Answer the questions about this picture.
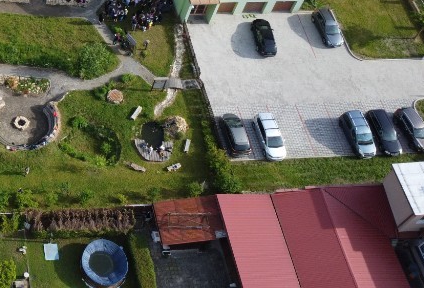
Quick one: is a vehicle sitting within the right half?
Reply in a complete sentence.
Yes, looking within the right half, one can make out a vehicle.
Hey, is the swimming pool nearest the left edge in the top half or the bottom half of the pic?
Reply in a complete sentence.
The swimming pool nearest the left edge sits in the bottom half of the picture.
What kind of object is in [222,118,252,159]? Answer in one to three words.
car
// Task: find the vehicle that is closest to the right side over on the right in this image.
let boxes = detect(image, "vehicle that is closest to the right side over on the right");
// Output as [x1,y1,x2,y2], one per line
[399,112,424,154]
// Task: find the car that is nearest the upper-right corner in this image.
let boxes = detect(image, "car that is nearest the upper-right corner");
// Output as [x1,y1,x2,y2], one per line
[316,13,345,48]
